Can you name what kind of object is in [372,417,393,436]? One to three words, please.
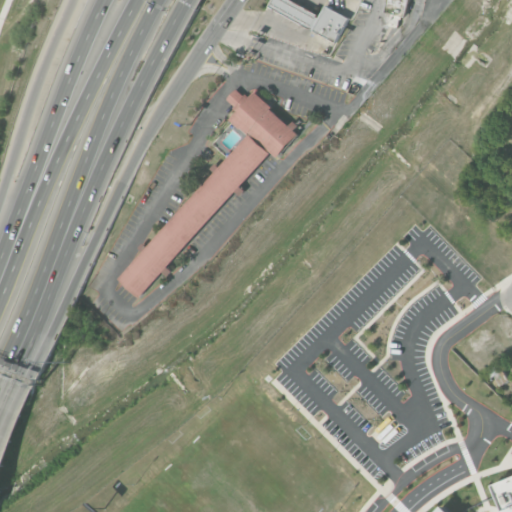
vehicle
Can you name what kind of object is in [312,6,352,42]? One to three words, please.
building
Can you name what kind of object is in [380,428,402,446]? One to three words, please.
vehicle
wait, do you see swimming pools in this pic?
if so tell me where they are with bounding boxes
[213,123,248,156]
